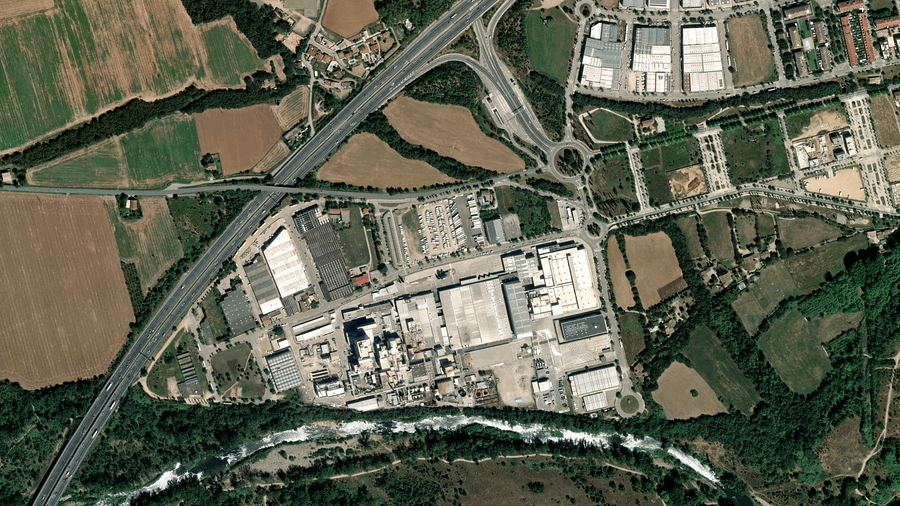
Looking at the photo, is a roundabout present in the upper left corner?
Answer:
No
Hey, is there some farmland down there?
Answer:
Yes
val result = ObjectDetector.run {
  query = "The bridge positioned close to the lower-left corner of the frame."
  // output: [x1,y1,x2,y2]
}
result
[33,378,127,506]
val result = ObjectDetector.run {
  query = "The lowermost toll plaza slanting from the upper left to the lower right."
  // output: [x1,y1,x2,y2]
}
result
[484,69,545,142]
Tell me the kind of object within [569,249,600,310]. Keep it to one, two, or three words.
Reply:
building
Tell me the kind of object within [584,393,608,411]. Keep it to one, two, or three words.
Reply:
building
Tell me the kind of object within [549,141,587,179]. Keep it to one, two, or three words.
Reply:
roundabout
